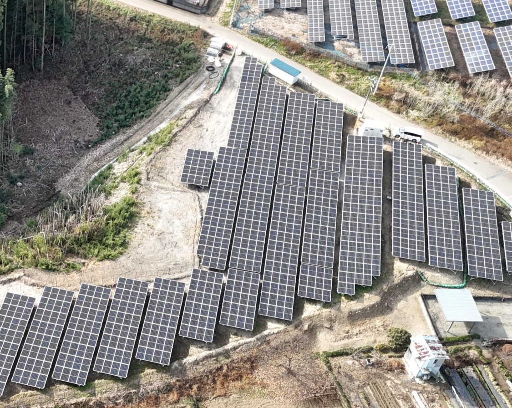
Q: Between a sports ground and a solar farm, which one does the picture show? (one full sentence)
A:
What you see here is a solar farm.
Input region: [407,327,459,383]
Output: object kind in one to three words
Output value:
shed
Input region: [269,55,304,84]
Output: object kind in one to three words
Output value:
shed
